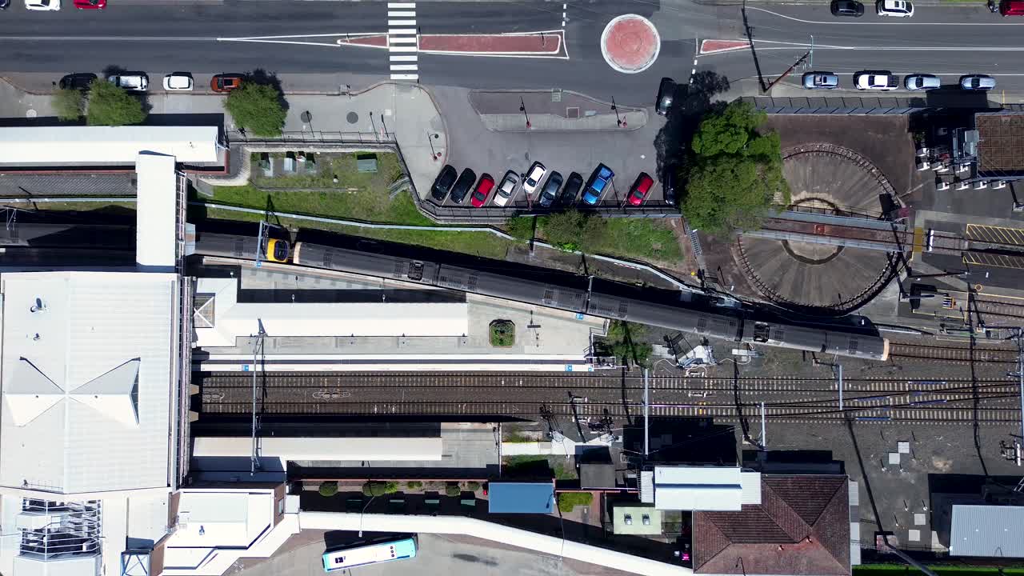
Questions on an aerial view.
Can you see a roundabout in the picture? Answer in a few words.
Yes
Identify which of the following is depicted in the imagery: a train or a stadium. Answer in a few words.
train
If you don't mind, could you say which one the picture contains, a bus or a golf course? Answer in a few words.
bus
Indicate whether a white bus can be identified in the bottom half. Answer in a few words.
Yes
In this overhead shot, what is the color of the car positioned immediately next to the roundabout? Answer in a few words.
black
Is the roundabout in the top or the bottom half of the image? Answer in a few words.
top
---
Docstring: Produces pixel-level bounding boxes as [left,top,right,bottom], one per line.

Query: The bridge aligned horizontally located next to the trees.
[723,206,912,252]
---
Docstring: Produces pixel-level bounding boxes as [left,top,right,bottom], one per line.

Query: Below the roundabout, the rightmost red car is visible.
[628,173,654,207]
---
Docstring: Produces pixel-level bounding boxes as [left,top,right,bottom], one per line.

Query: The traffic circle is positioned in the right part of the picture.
[601,14,660,73]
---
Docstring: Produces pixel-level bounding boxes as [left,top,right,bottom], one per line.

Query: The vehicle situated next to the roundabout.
[655,77,676,116]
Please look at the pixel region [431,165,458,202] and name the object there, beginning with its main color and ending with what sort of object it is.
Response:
black car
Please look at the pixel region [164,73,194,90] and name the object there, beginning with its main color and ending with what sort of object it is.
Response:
white car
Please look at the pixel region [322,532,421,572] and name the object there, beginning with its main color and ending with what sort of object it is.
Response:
white bus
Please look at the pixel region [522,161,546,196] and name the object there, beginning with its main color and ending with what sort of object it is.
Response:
white car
